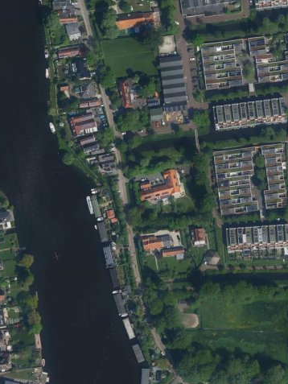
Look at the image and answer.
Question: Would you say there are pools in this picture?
No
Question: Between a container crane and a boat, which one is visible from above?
boat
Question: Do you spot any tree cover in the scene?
Yes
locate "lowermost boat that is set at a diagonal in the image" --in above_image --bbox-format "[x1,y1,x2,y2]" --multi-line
[130,344,147,365]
